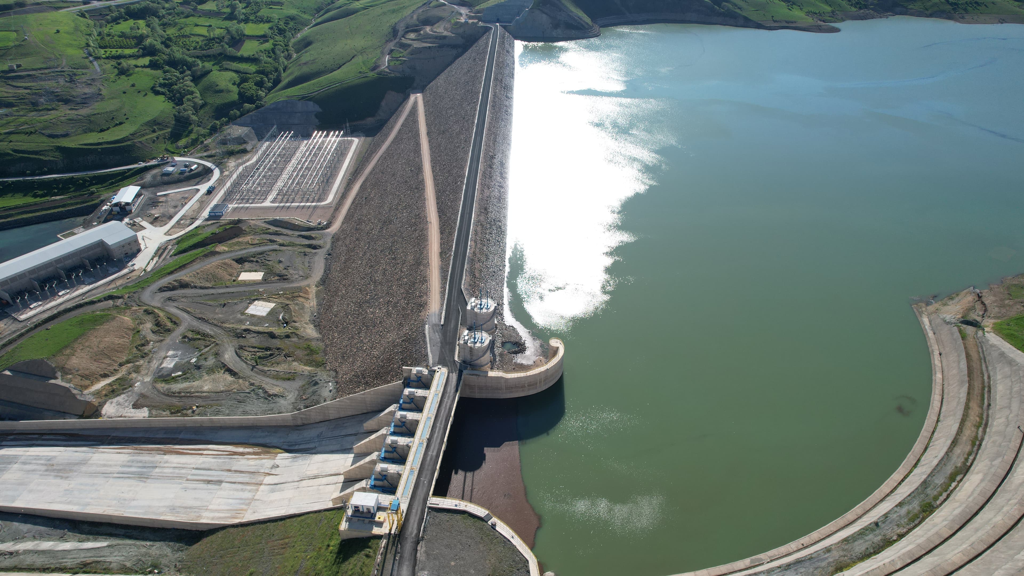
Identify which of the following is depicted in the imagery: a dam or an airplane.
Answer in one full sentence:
It is a dam that can be seen here.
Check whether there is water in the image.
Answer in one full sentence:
Yes, water shows up in the scene.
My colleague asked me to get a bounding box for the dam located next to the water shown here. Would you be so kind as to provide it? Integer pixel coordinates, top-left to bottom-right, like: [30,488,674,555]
[313,25,542,399]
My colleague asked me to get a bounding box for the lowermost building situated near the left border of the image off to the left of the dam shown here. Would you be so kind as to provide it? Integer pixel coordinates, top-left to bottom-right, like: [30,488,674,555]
[0,221,145,299]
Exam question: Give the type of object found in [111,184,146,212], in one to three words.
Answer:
shed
